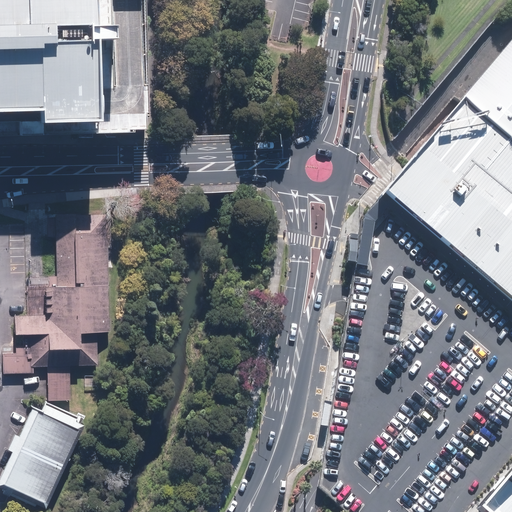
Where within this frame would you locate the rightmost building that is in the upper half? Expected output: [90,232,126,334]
[382,44,512,302]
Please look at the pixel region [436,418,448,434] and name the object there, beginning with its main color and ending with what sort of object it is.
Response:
white vehicle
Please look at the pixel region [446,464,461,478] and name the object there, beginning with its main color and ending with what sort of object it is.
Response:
white car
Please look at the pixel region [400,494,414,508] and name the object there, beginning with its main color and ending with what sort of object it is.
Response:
blue vehicle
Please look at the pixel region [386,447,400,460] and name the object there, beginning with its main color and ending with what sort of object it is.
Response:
white vehicle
